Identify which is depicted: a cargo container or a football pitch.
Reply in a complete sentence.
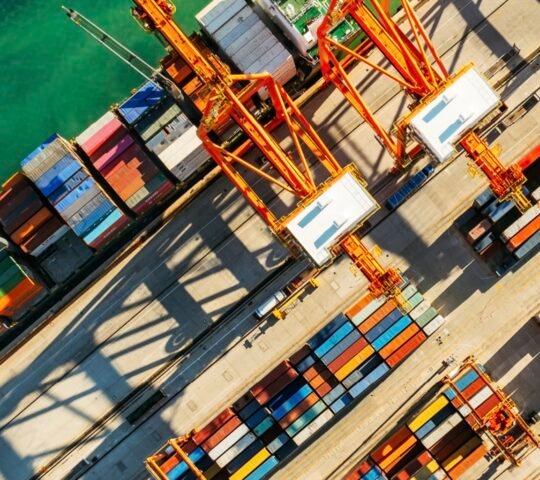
The image shows a cargo container.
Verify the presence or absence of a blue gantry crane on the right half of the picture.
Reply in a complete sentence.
No, I can find no blue gantry crane on the right half of the picture.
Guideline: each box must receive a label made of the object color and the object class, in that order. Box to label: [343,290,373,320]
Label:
orange shipping container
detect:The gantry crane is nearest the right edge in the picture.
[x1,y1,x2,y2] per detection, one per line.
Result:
[310,0,540,220]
